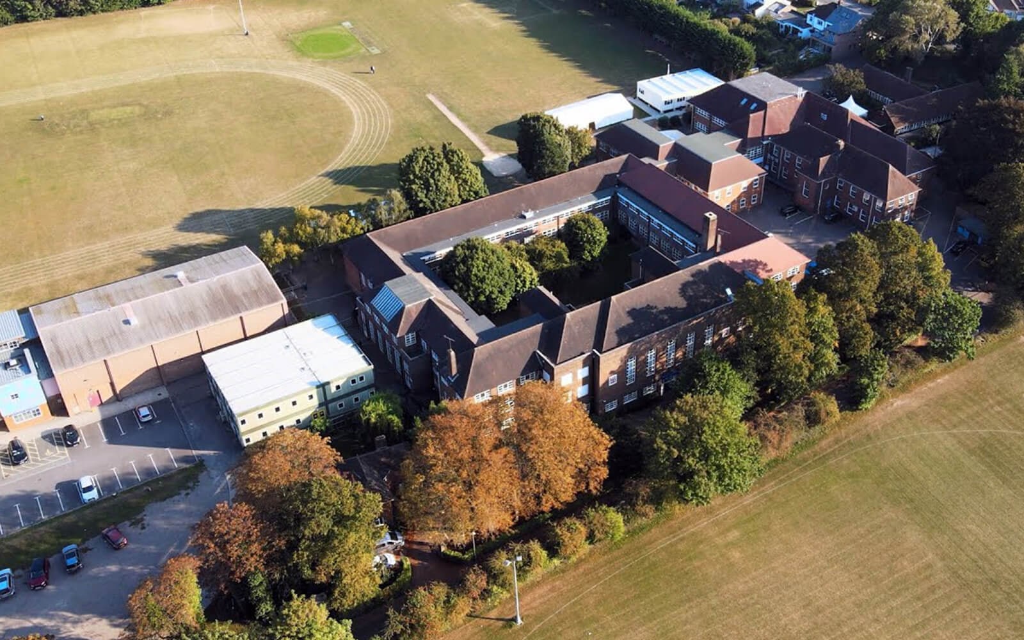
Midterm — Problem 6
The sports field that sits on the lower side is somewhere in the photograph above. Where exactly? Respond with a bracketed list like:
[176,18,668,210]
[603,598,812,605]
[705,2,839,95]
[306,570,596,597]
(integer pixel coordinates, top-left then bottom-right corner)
[454,323,1024,640]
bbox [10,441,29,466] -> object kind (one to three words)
car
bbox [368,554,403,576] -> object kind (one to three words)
car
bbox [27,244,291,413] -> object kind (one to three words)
building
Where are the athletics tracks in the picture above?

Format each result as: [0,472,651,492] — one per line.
[0,60,390,293]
